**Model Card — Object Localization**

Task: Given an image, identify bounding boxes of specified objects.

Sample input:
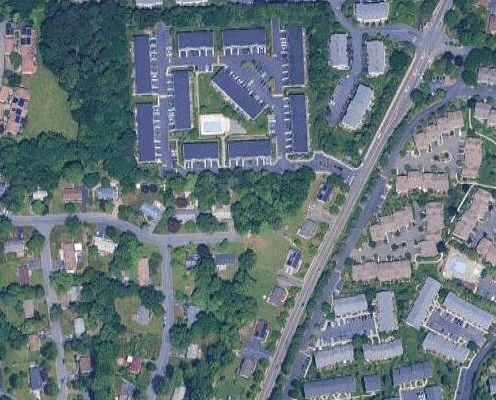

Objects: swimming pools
[444,250,483,285]
[199,114,229,136]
